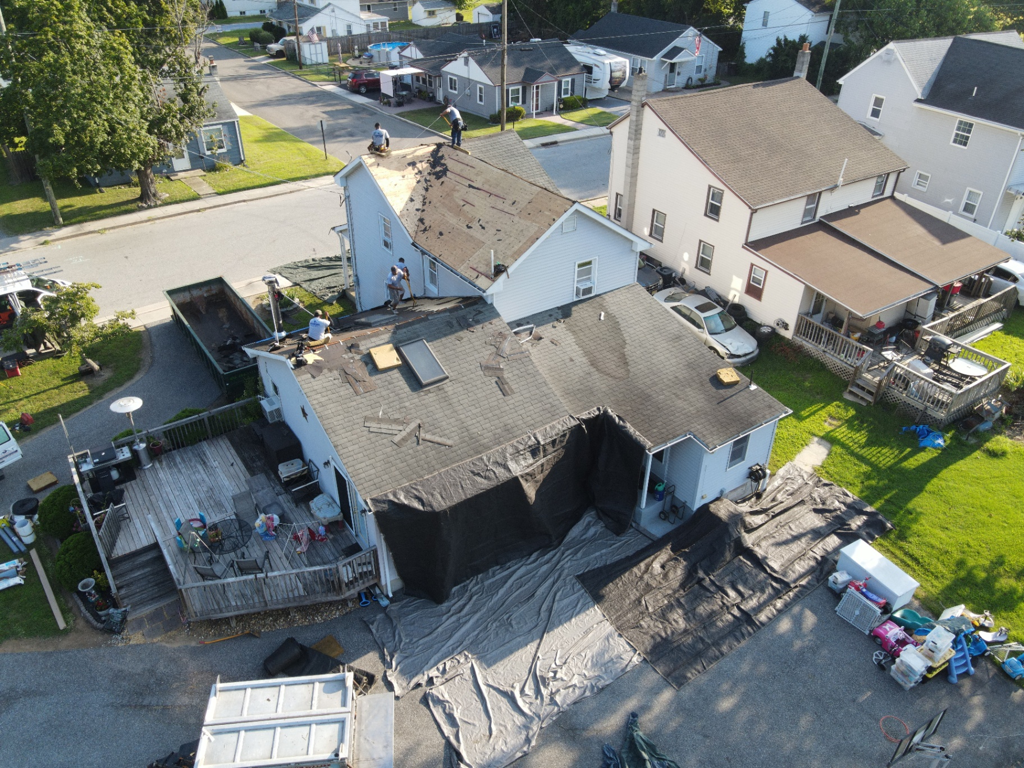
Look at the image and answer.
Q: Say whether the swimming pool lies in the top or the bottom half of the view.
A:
top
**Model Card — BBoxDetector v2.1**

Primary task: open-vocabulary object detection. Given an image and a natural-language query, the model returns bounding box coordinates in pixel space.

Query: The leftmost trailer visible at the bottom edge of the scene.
[197,666,408,768]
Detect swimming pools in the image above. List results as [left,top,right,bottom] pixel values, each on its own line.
[368,43,413,64]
